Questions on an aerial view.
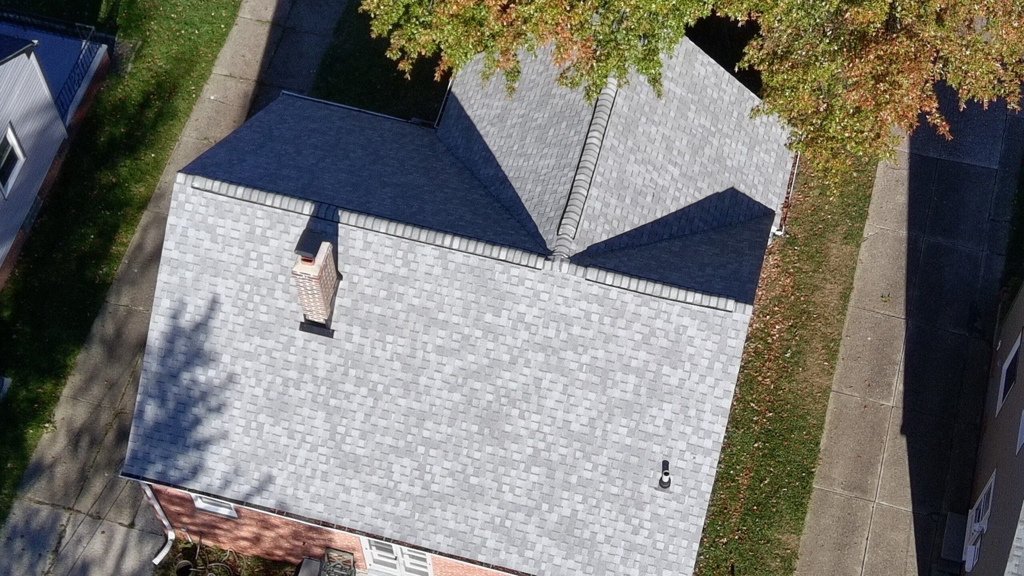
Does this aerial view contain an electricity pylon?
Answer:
No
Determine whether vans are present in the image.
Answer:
No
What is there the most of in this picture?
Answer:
buildings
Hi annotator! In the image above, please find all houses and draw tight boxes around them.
[124,5,802,576]
[0,1,114,287]
[940,276,1024,576]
